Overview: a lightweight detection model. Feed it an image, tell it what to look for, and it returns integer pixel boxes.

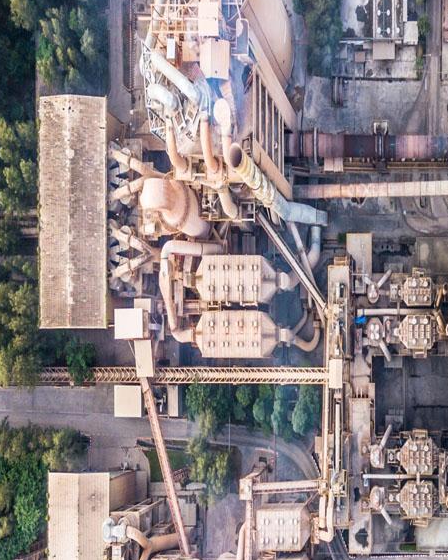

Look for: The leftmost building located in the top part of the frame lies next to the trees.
[37,92,123,330]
